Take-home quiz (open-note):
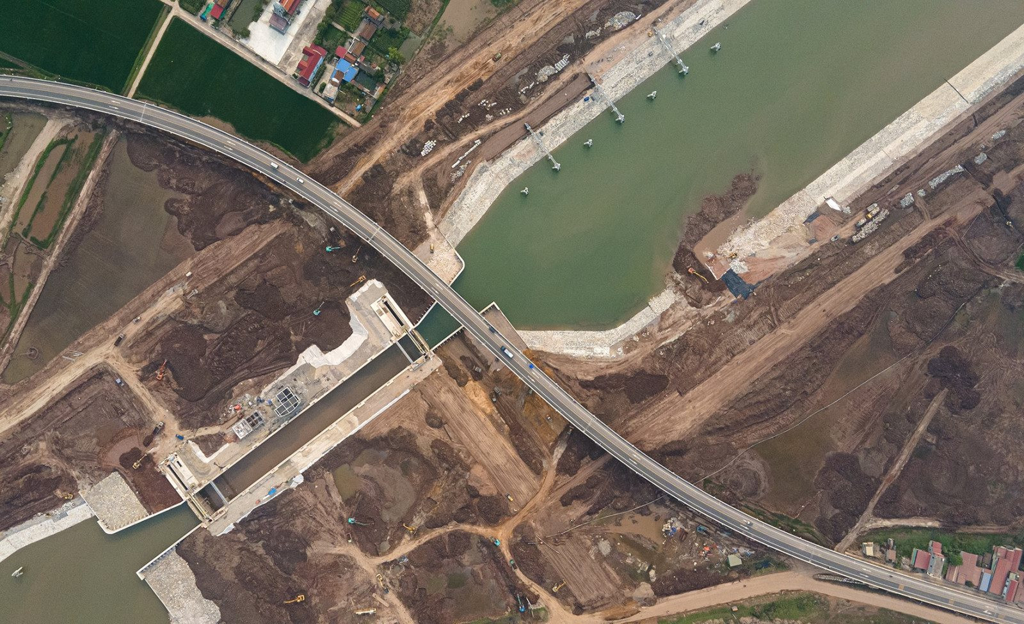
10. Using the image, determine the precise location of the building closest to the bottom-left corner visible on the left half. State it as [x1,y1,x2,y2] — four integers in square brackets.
[232,410,266,439]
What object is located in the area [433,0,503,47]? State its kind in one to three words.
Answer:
pond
